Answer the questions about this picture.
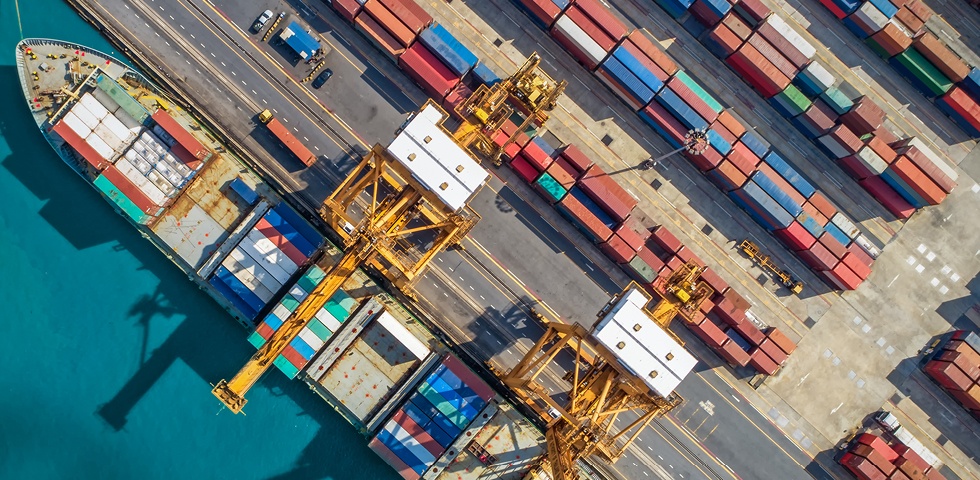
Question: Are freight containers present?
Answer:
Yes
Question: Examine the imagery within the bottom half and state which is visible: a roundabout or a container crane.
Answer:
container crane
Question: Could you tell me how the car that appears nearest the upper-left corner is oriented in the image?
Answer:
on a diagonal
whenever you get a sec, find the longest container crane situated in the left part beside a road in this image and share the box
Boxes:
[205,79,511,414]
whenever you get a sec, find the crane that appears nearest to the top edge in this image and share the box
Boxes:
[469,46,572,166]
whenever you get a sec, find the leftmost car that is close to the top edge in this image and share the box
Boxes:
[250,9,273,32]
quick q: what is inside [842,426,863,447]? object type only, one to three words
work vehicle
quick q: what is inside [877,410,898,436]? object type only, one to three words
truck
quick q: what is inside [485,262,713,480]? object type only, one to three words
container crane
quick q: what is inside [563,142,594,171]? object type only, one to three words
shipping container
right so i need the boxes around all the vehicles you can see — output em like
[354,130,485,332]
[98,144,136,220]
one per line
[842,426,863,447]
[311,67,333,89]
[877,410,898,436]
[250,9,273,32]
[740,236,808,296]
[926,335,947,355]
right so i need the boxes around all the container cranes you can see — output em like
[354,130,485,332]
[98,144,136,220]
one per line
[205,79,511,414]
[469,46,572,166]
[485,262,713,480]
